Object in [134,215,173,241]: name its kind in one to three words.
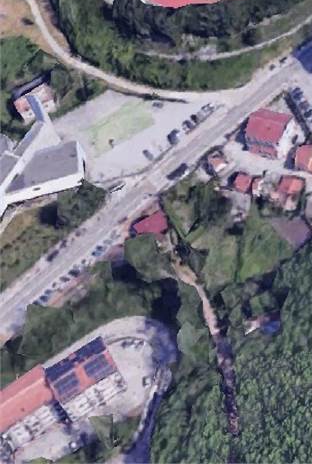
house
